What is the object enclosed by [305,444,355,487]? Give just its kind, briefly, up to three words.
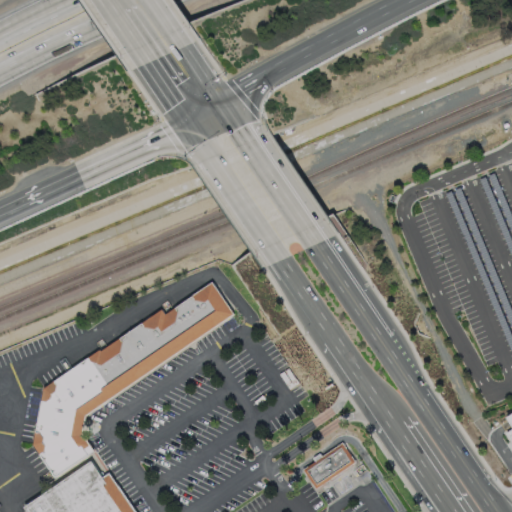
building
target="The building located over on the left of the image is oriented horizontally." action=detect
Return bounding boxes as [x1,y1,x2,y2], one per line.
[25,462,137,512]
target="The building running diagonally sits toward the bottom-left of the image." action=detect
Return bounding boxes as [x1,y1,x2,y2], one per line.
[35,281,234,480]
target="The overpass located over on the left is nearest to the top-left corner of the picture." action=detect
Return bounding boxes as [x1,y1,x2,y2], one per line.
[80,0,194,73]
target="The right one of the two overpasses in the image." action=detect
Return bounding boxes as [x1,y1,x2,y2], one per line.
[186,116,343,268]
